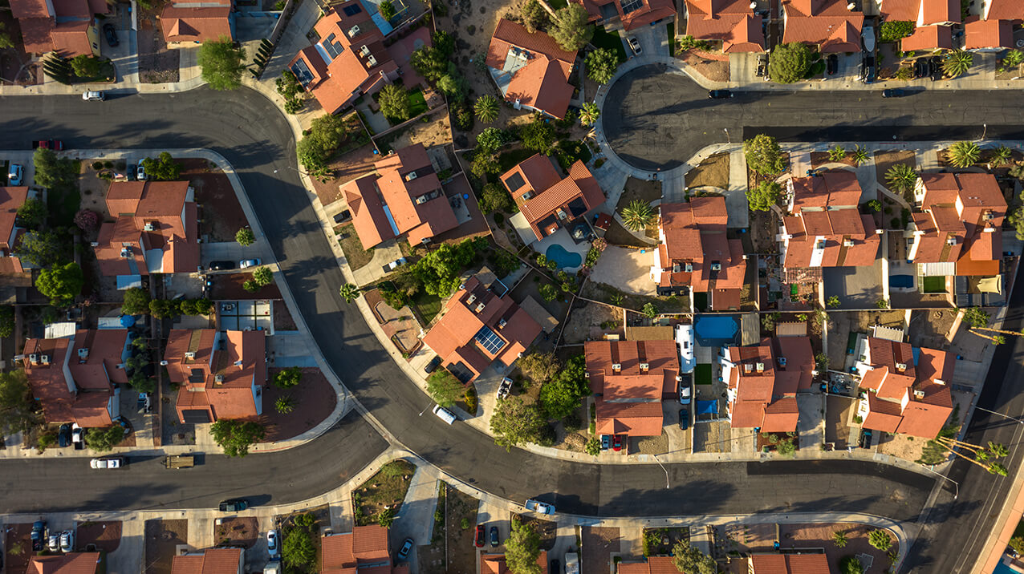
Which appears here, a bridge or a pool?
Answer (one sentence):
Looking from above, you can make out a pool.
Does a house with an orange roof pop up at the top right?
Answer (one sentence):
Yes, the scene does show a house with an orange roof at the top right.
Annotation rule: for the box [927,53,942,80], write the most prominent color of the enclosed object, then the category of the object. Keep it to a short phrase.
black car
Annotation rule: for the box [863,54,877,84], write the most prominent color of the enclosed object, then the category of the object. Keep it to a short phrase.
black vehicle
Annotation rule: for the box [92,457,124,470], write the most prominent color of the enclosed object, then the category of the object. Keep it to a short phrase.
white vehicle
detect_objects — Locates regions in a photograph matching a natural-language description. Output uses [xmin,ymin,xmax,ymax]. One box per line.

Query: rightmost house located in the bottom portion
[850,325,957,440]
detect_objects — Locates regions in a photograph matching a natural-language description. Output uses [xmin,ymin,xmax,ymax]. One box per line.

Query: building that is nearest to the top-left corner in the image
[8,0,116,61]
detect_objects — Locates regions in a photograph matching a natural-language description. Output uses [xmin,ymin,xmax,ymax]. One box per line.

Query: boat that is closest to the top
[862,23,876,54]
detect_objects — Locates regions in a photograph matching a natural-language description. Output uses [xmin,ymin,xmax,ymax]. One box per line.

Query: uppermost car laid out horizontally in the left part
[82,90,108,102]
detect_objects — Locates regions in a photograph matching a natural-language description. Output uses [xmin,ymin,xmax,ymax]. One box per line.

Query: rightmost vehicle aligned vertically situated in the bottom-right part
[860,425,873,453]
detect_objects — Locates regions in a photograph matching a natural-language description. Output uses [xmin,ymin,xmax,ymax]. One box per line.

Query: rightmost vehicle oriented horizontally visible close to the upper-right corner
[879,88,905,100]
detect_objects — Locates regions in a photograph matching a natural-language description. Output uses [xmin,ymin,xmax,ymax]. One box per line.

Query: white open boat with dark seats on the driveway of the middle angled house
[496,371,512,403]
